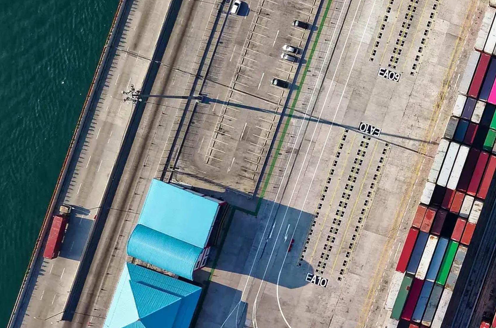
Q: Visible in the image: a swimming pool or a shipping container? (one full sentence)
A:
The image shows a shipping container.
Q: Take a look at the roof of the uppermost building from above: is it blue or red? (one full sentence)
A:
From above, the roof of the uppermost building appears blue.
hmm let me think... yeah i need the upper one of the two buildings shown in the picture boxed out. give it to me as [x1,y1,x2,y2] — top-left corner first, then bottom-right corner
[127,177,230,279]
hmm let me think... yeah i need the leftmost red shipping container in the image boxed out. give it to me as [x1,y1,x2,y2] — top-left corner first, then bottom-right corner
[44,214,70,258]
